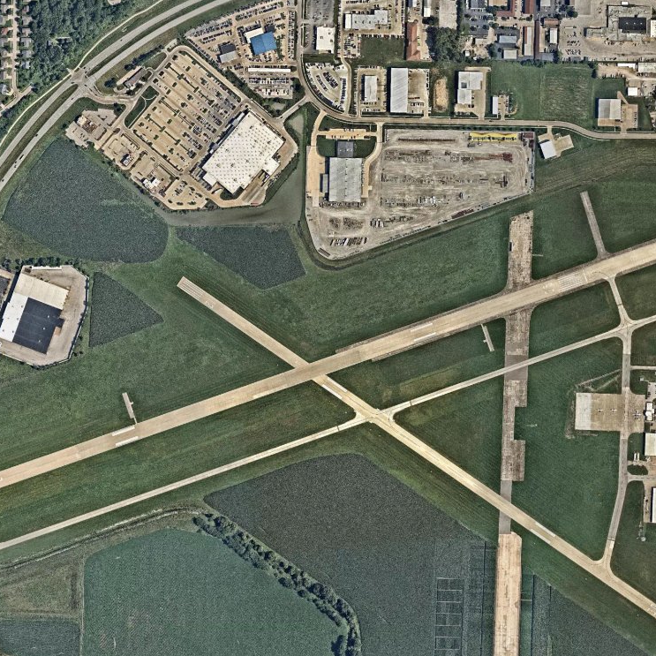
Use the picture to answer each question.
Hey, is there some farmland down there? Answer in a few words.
Yes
